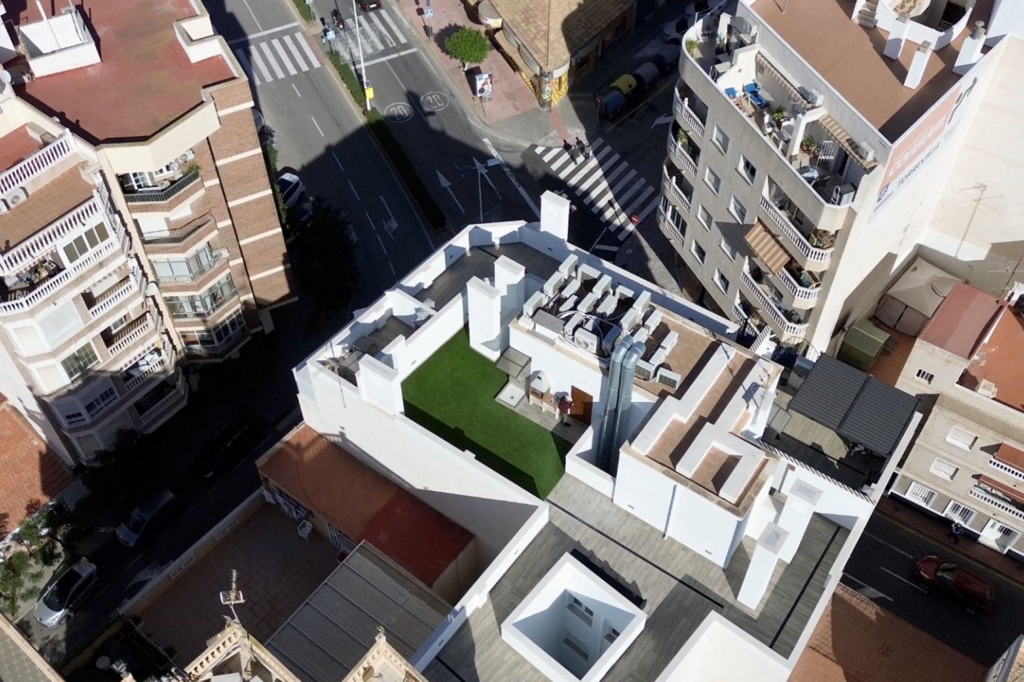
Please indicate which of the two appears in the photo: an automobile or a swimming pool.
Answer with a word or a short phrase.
automobile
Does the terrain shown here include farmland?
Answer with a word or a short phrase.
No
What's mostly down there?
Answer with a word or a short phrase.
buildings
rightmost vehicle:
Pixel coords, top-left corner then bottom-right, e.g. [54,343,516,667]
[913,554,1006,616]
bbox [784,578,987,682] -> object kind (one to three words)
building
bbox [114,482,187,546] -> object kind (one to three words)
car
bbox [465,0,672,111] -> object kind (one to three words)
building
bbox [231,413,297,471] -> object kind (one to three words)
car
